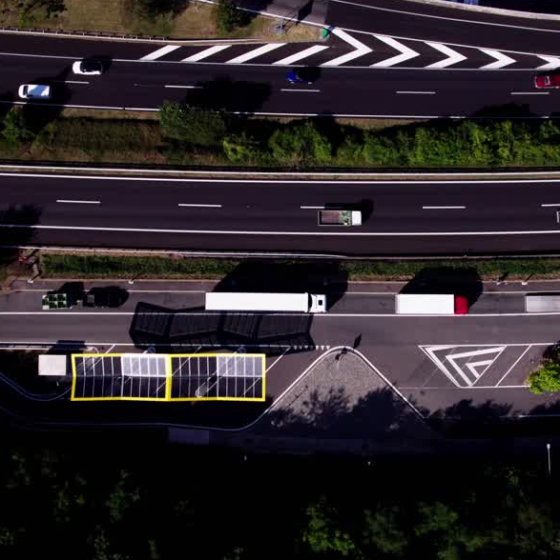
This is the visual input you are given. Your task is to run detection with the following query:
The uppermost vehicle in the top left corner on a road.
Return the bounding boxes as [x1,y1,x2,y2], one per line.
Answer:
[73,58,104,75]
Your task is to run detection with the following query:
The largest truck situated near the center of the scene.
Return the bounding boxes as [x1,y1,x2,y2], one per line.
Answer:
[207,292,323,313]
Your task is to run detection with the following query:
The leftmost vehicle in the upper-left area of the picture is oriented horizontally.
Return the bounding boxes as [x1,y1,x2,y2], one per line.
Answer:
[18,82,52,100]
